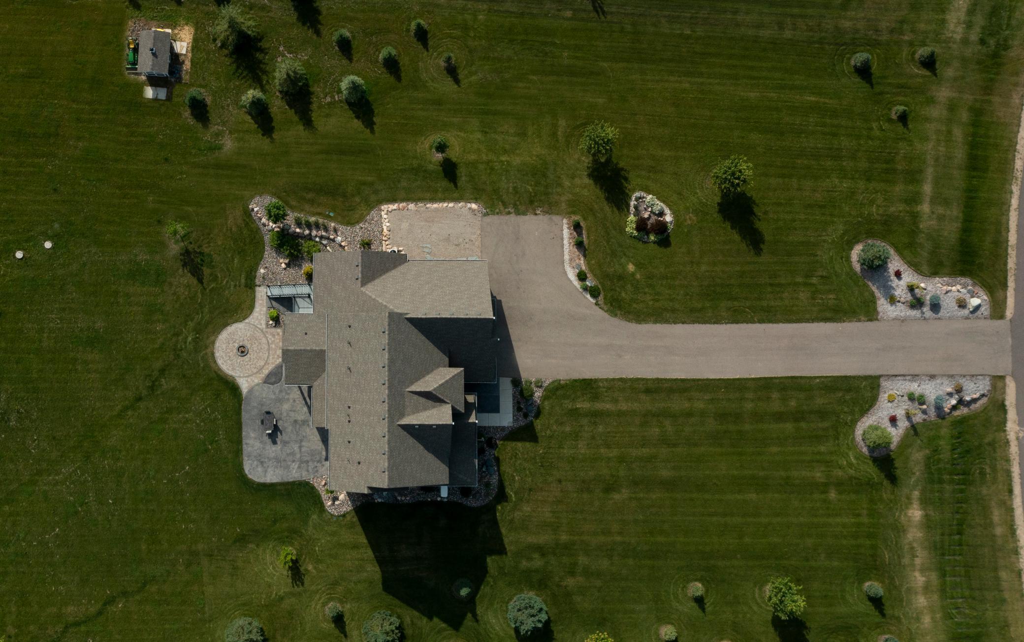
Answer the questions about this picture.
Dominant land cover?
grass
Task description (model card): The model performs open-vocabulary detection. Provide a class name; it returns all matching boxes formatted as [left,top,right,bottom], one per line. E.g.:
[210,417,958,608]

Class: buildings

[137,28,172,79]
[283,250,501,494]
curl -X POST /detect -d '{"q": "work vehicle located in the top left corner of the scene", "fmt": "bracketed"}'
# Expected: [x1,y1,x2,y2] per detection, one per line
[123,39,139,76]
